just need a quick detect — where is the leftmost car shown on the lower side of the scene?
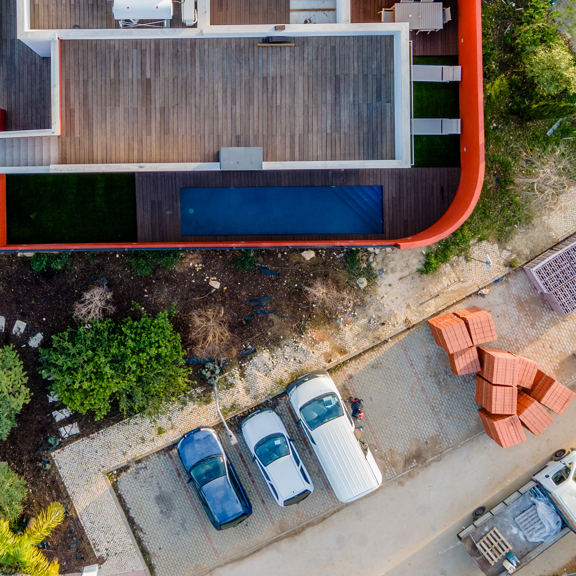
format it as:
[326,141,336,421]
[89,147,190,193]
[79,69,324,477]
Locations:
[177,420,259,538]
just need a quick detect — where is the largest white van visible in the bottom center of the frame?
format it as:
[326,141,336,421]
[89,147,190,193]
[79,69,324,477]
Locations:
[283,360,397,519]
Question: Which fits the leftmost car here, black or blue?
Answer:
blue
